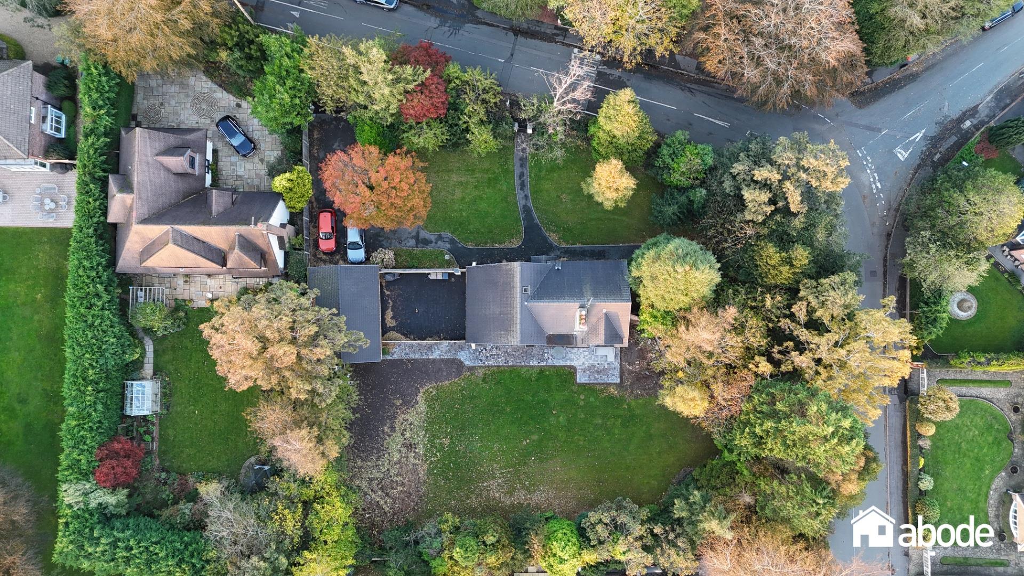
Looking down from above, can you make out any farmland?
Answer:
No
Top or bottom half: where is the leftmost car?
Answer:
top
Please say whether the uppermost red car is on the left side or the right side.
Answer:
left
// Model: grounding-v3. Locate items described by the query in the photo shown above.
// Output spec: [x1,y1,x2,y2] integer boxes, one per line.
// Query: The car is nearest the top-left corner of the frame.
[213,112,258,160]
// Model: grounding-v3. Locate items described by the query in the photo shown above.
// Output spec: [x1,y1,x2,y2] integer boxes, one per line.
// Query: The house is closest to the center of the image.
[466,256,632,350]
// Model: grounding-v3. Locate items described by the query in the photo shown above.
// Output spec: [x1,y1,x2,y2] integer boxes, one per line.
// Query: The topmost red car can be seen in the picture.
[314,209,338,251]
